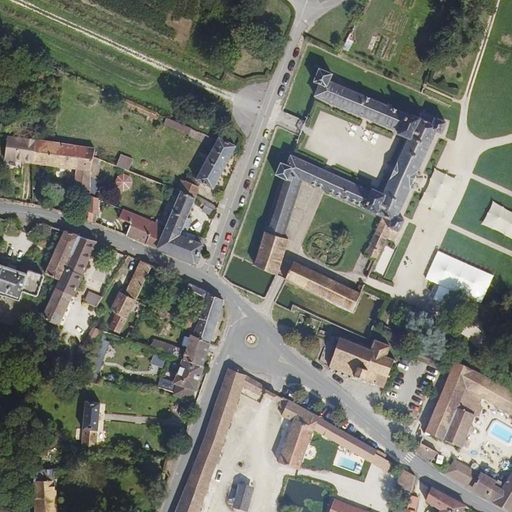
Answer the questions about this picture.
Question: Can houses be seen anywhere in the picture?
Yes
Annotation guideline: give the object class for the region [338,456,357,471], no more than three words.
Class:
swimming pool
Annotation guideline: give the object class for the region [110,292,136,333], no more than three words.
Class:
house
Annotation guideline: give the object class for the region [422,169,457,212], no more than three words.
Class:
tent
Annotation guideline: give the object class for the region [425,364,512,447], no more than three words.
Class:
building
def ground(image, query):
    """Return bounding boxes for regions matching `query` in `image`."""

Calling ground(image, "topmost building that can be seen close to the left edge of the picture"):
[4,136,102,194]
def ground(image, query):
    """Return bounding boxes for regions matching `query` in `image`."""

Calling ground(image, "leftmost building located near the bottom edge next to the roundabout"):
[176,368,264,512]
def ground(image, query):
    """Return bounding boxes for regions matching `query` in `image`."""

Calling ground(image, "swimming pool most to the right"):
[488,422,512,446]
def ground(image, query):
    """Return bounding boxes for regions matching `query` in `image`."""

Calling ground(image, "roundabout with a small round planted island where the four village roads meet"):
[229,317,274,362]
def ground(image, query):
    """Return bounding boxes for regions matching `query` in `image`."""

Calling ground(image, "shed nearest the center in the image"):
[254,232,288,275]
